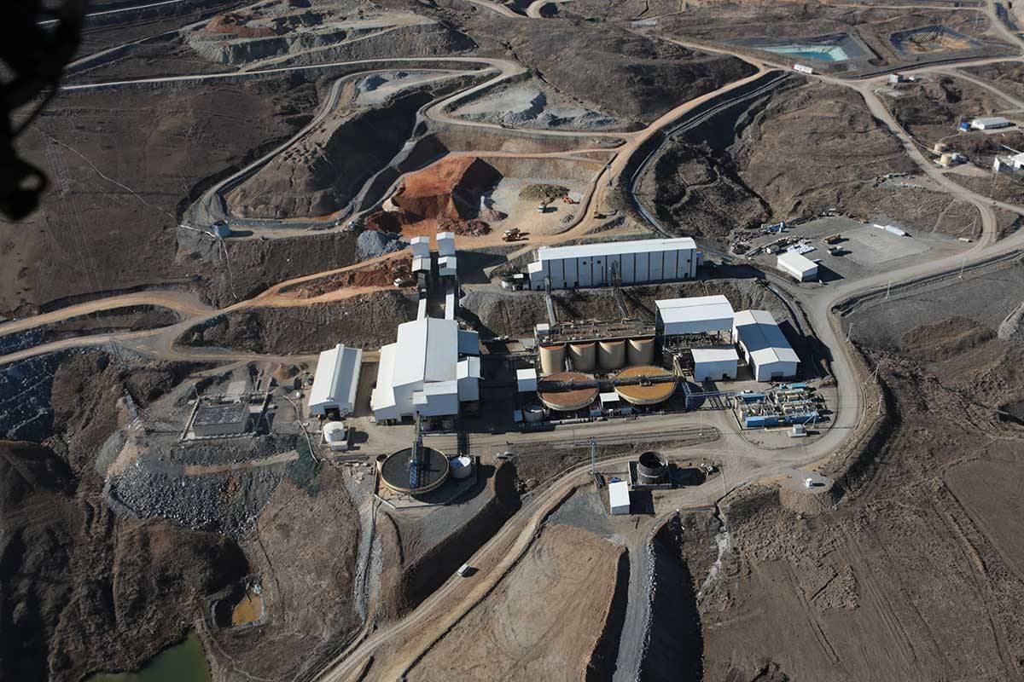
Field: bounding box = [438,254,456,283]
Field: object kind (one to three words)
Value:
house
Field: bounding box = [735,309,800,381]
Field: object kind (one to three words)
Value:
building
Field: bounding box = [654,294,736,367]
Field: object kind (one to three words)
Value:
shed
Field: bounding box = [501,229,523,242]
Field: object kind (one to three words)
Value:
vehicle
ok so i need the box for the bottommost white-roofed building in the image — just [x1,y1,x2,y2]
[606,482,631,515]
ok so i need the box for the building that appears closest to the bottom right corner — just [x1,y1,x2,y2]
[785,419,809,437]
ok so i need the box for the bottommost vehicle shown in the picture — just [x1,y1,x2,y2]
[456,564,471,576]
